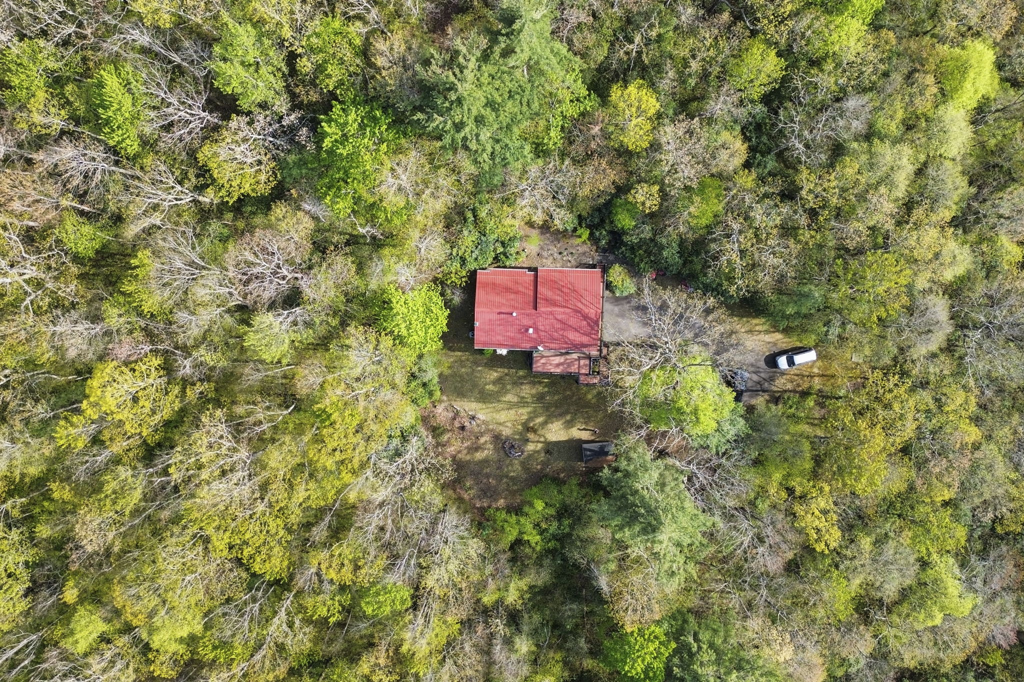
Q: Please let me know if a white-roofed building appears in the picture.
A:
No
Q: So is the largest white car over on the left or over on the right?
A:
right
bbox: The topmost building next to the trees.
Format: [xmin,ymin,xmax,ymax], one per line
[473,267,602,353]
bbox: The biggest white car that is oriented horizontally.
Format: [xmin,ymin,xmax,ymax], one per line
[775,349,819,370]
